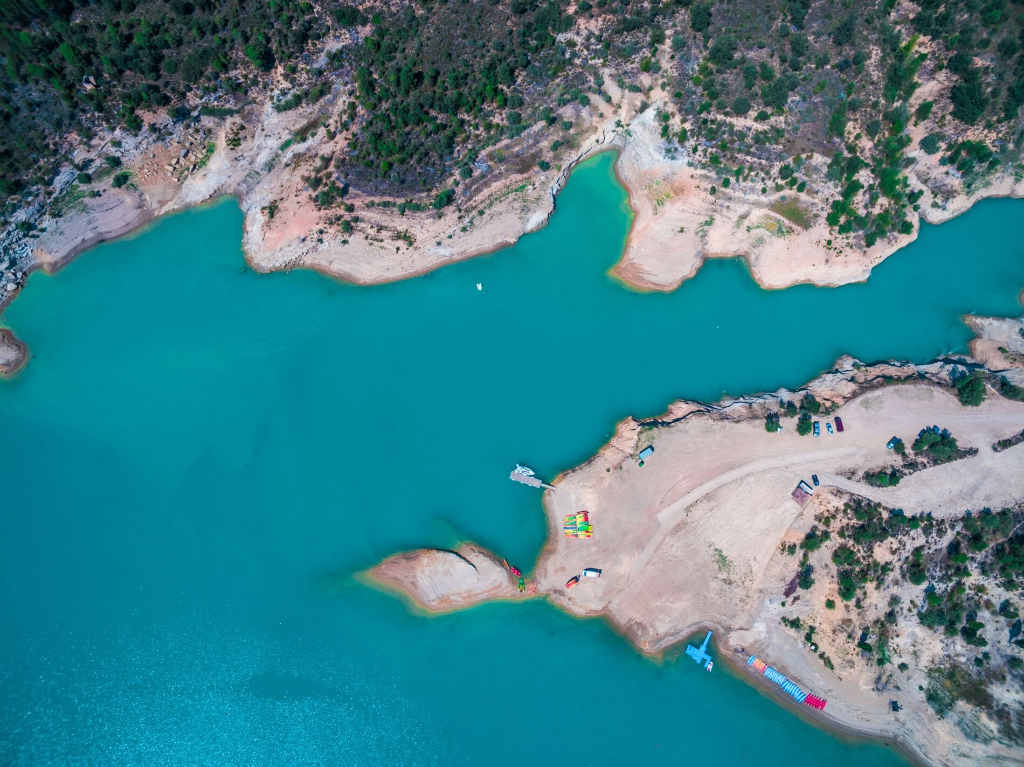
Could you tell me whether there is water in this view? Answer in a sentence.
Yes, water can be seen from above here.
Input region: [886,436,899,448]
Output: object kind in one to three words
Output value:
vehicle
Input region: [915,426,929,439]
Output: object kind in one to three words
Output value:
vehicle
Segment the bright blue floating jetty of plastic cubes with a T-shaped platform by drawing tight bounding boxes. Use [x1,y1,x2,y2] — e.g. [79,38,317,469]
[685,630,713,667]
